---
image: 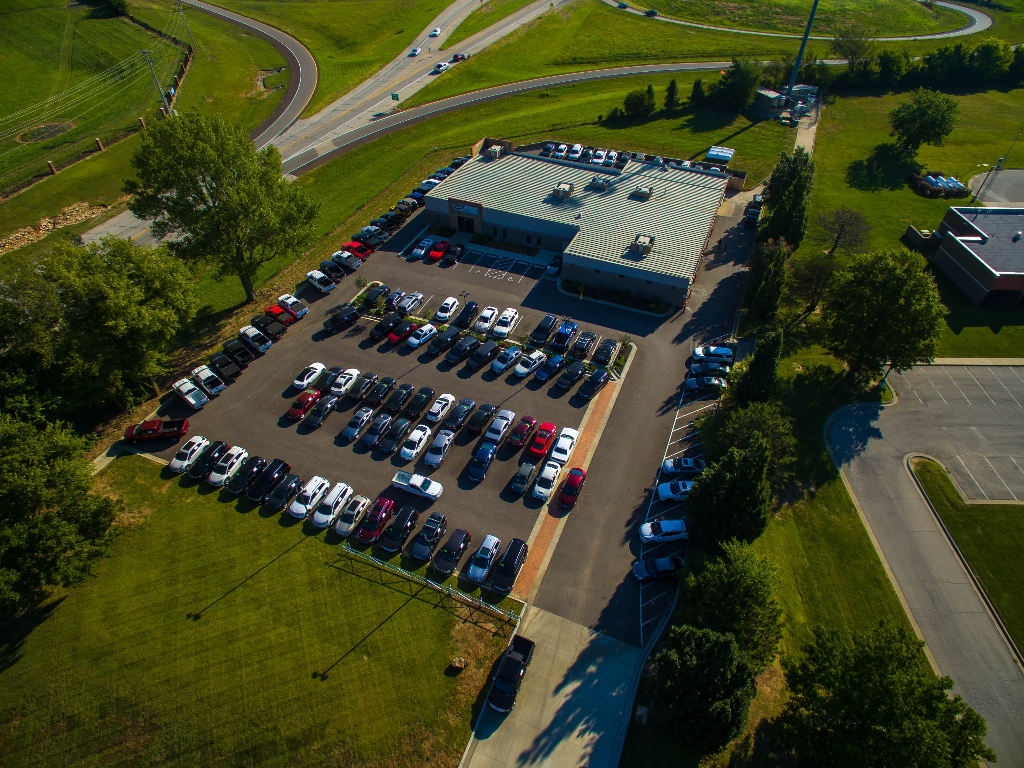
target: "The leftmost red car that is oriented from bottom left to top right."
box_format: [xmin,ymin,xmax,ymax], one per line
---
[287,388,322,423]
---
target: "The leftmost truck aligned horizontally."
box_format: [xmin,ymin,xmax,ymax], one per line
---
[130,421,188,445]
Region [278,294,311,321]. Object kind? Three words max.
truck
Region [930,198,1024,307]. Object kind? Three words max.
building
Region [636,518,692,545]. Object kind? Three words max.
car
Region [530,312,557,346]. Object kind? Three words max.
car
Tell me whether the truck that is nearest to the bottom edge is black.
Yes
